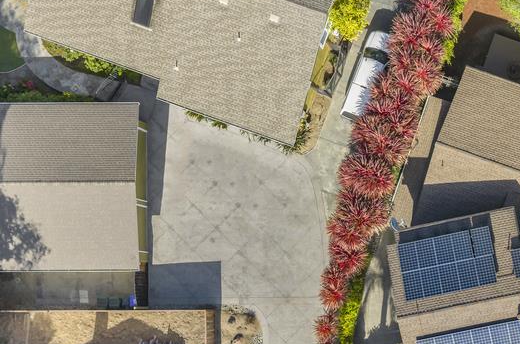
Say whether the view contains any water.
No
